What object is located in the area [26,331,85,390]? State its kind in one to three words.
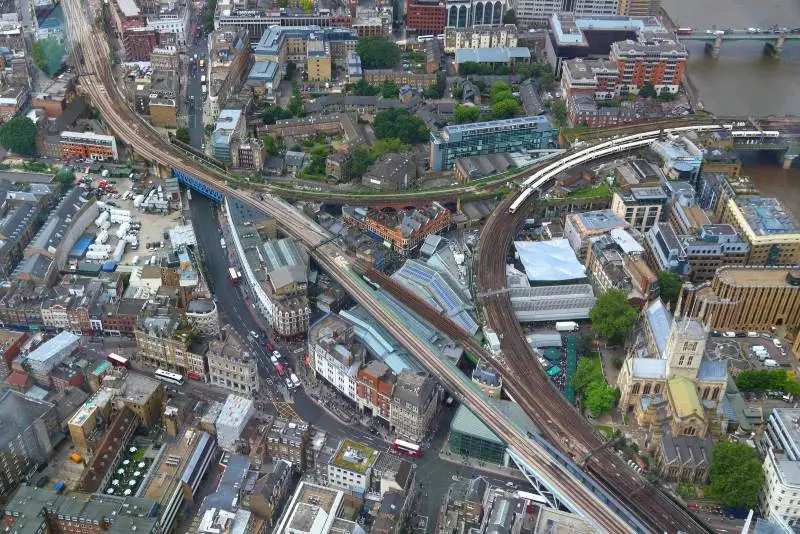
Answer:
building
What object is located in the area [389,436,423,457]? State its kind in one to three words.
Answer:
bus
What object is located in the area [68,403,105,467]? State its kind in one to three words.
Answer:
building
